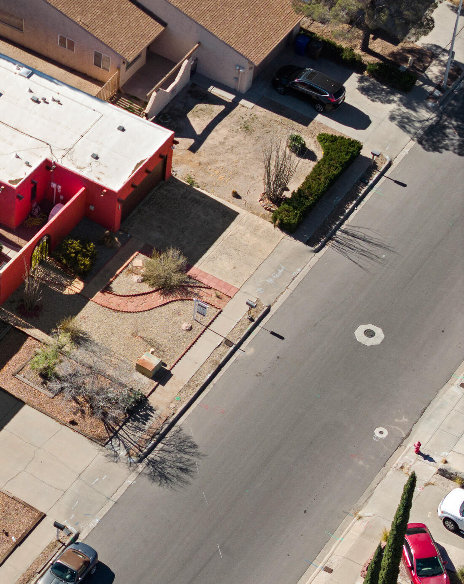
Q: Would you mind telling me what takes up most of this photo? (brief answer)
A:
paved ground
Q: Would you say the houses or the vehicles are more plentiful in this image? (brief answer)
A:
vehicles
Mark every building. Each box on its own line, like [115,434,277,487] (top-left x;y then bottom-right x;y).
[0,0,303,92]
[0,53,180,234]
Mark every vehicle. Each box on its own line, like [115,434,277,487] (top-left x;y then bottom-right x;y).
[409,521,454,584]
[438,487,464,529]
[37,541,99,584]
[270,64,350,112]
